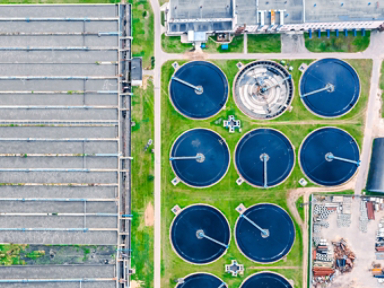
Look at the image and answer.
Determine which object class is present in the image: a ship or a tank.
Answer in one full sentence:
It is a tank that can be seen here.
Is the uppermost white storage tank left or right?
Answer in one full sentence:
The uppermost white storage tank sits on the right side.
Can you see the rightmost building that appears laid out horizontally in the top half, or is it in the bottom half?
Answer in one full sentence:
It is in the top half that the rightmost building that appears laid out horizontally appears.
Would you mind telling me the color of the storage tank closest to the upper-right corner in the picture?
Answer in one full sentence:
The storage tank closest to the upper-right corner looks blue in the image.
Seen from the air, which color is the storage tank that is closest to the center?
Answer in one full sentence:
The storage tank that is closest to the center is blue.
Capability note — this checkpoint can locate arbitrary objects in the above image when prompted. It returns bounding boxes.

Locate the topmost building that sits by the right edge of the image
[293,0,384,38]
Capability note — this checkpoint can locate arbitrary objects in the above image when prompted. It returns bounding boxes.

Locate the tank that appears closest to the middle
[169,128,230,188]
